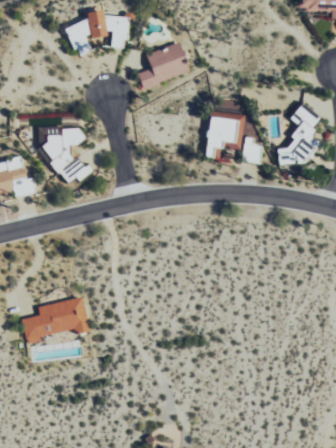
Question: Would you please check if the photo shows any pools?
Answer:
Yes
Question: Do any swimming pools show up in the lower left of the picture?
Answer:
Yes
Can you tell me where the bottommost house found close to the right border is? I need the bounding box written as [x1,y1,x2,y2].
[278,106,321,166]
